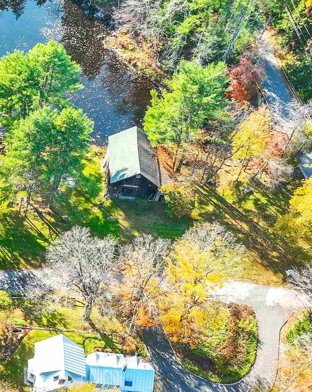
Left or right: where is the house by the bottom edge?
left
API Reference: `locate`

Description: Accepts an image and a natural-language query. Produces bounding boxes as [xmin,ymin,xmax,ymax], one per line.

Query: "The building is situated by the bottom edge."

[12,334,156,392]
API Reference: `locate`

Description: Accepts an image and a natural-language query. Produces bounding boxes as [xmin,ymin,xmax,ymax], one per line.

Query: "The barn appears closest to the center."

[103,123,173,204]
